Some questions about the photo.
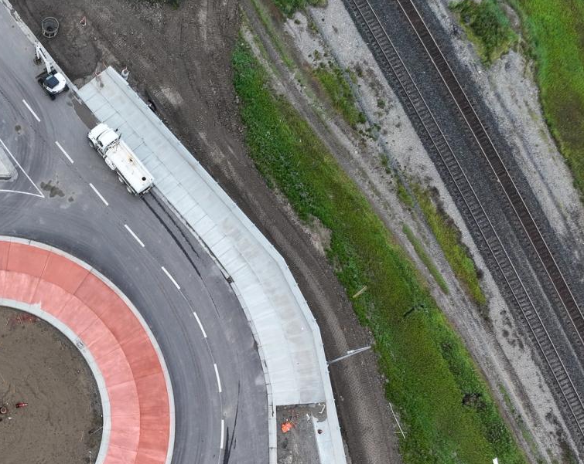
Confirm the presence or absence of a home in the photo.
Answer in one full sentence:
No, no home is visible in the view.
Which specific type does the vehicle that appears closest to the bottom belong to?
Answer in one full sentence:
The vehicle that appears closest to the bottom can be classified as a truck.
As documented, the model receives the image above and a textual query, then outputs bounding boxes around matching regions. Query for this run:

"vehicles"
[87,126,153,200]
[36,40,70,102]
